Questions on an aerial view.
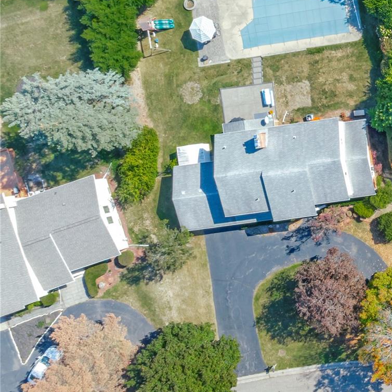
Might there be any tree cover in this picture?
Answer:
Yes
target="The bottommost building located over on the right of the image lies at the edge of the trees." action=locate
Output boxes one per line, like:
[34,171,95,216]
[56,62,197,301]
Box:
[172,115,378,232]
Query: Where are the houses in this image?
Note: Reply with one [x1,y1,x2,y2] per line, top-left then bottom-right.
[172,115,378,232]
[0,164,147,316]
